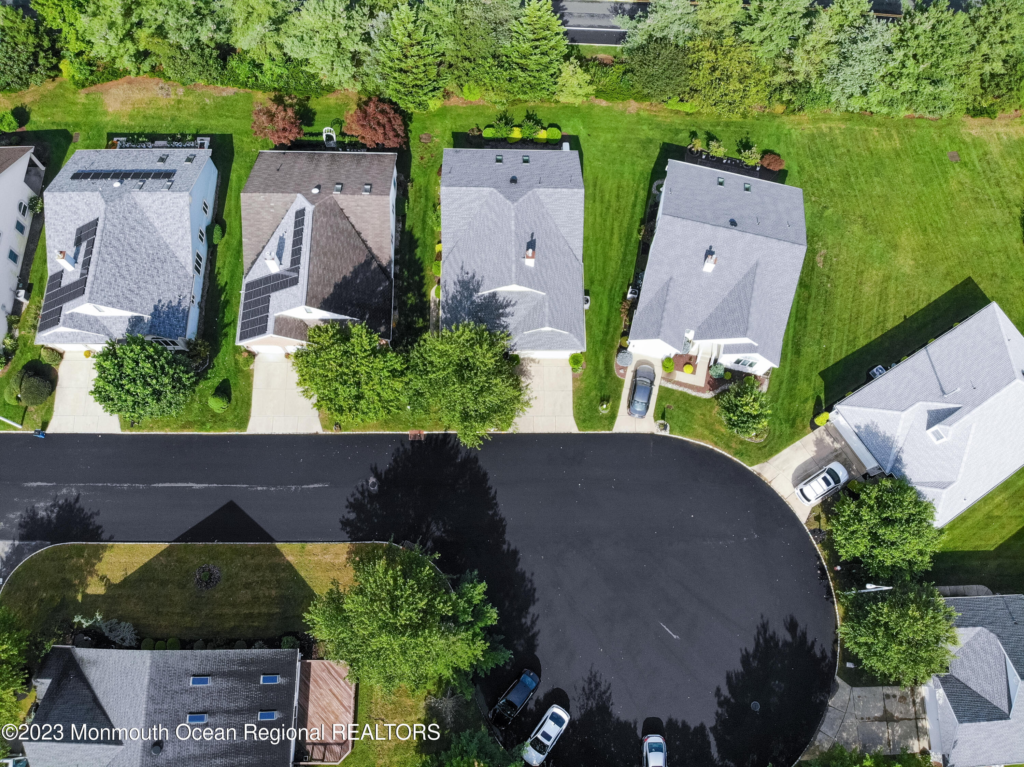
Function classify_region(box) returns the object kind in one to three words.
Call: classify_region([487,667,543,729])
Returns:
car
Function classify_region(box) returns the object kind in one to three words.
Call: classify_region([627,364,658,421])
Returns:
car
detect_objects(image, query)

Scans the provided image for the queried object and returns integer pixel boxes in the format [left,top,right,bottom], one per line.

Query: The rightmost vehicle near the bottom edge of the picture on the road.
[640,733,667,767]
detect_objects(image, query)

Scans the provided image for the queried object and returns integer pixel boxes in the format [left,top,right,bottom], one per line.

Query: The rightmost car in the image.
[792,464,849,509]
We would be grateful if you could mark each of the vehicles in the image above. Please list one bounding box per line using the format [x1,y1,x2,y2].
[627,364,658,421]
[640,733,667,767]
[0,752,28,767]
[487,667,543,729]
[520,702,573,767]
[792,464,849,509]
